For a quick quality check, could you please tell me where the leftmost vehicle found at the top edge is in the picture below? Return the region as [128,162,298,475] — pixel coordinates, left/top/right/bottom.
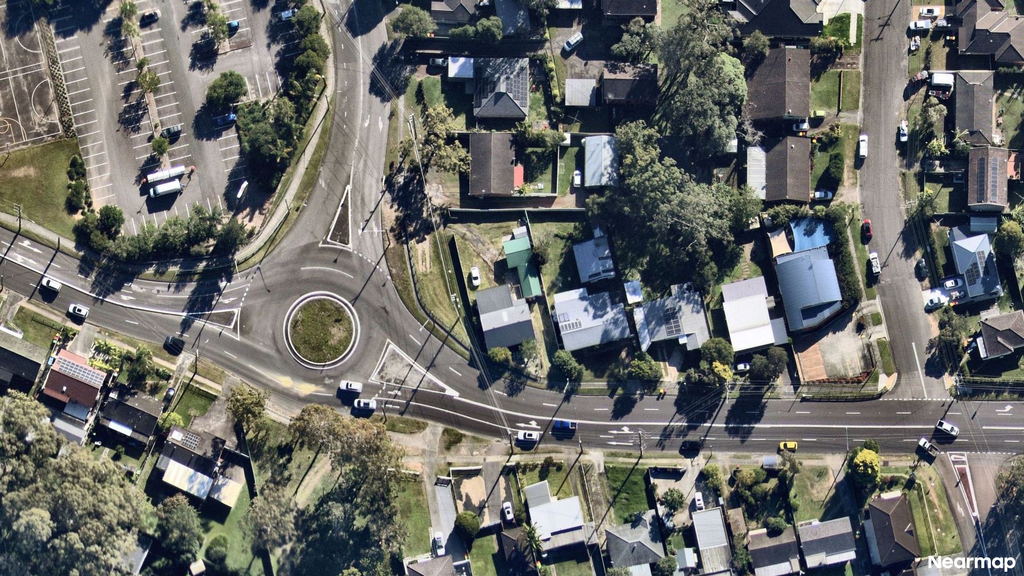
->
[140,12,162,24]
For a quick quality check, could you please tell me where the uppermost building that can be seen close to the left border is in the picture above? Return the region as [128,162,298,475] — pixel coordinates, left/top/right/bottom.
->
[0,322,48,386]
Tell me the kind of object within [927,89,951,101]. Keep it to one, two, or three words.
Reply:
vehicle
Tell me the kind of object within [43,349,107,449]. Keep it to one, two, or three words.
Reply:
house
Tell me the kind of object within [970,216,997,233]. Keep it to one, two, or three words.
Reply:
shed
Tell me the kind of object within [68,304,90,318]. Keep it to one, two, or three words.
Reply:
car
